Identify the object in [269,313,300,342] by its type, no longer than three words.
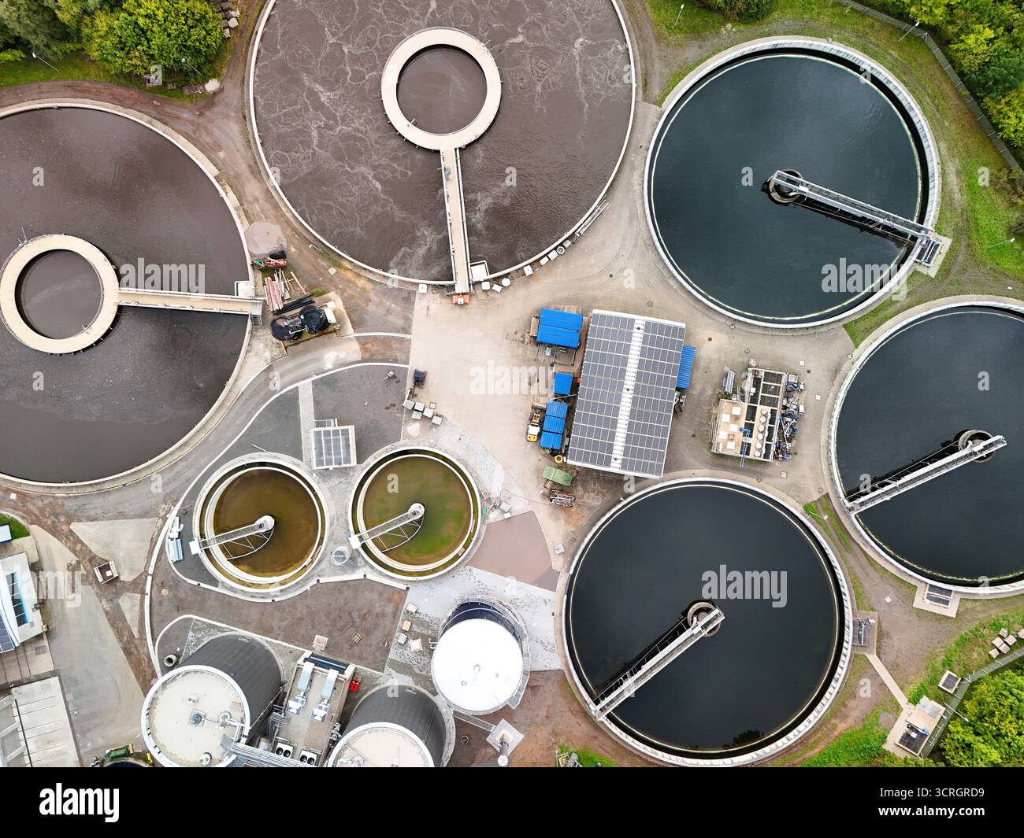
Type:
storage tank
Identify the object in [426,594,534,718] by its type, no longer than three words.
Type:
storage tank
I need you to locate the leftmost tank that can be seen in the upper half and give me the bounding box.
[0,98,264,495]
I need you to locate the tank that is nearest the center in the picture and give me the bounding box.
[349,448,481,580]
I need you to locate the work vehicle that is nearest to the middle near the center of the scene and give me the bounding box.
[525,402,546,445]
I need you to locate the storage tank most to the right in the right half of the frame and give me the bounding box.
[821,296,1024,597]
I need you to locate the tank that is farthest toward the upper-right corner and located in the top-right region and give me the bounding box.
[637,35,938,336]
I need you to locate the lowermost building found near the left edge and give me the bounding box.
[0,552,49,654]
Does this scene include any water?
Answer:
Yes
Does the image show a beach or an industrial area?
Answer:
industrial area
